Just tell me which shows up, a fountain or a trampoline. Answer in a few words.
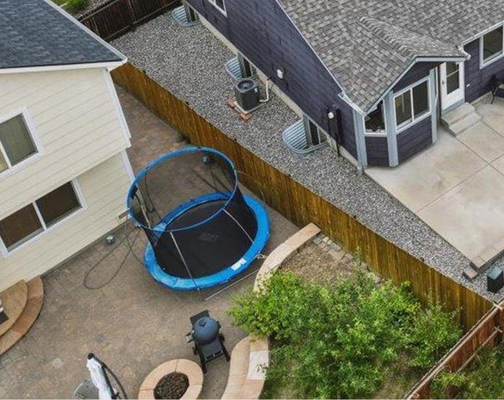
trampoline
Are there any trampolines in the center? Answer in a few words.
Yes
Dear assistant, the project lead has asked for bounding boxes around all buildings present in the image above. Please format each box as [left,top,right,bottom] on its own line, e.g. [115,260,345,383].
[183,0,504,176]
[0,0,143,291]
